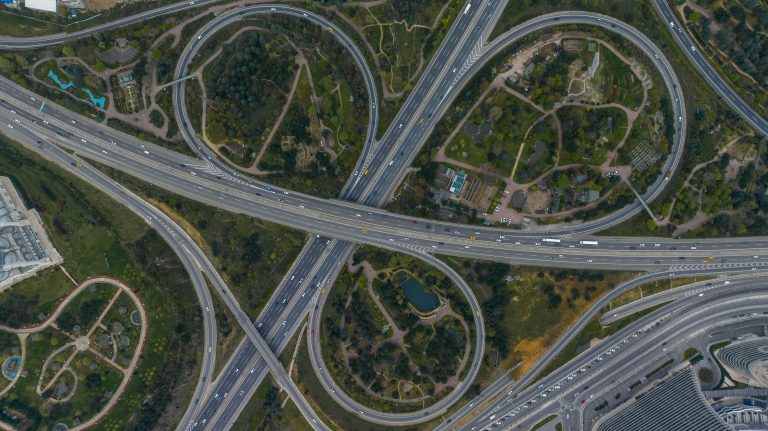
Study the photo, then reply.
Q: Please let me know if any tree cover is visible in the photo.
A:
Yes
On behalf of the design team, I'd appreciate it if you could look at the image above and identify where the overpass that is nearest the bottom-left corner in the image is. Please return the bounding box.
[230,301,296,391]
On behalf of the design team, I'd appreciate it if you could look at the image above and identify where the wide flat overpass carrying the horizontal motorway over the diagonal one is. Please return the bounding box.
[302,193,394,245]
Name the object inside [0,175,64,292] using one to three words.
building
